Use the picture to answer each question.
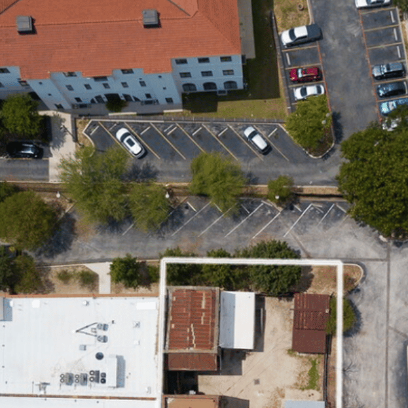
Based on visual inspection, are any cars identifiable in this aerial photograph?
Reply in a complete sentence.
Yes, the picture does show a car.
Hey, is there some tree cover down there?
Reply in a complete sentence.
Yes, there is tree cover in the image.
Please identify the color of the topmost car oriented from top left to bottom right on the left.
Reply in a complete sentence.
In this view, the topmost car oriented from top left to bottom right on the left is white.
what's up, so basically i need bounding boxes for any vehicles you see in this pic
[242,126,271,156]
[374,80,408,97]
[289,65,322,84]
[355,0,390,9]
[378,97,408,116]
[115,127,146,160]
[370,62,406,81]
[7,142,44,158]
[293,83,326,101]
[280,26,322,47]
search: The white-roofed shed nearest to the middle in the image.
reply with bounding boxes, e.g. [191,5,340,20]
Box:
[220,291,255,349]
